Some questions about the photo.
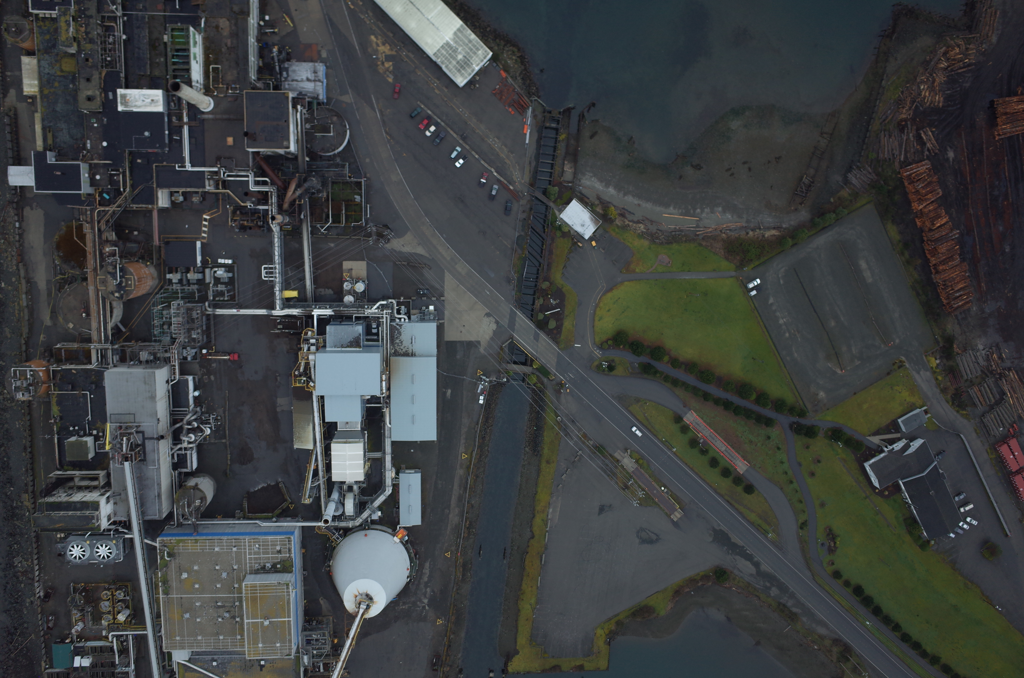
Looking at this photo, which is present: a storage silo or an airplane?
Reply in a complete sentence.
The one in the frame is a storage silo.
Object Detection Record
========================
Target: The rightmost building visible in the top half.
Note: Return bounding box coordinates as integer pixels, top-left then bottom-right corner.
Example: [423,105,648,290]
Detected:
[558,199,602,239]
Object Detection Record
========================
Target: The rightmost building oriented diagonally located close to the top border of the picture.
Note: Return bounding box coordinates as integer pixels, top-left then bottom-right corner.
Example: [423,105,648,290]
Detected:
[370,0,493,91]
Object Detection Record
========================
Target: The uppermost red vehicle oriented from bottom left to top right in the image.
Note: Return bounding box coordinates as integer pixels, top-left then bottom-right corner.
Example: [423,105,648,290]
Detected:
[418,115,432,130]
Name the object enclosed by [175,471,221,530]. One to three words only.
silo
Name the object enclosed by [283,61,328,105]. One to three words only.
shed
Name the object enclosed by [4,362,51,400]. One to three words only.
storage tank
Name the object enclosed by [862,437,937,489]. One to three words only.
building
